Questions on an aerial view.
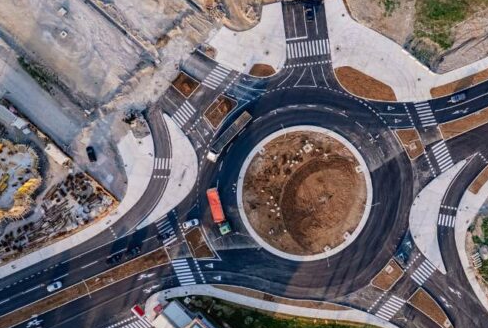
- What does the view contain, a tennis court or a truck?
truck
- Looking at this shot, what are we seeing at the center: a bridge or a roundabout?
roundabout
